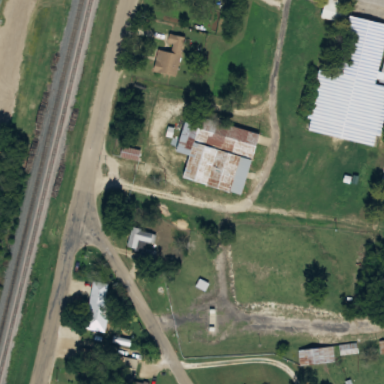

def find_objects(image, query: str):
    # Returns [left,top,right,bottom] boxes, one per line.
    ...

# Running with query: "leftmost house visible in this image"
[86,282,108,331]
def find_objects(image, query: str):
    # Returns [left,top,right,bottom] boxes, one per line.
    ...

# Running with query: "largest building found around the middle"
[176,116,260,196]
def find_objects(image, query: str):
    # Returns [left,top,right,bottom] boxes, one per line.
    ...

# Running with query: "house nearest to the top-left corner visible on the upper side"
[153,34,186,76]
